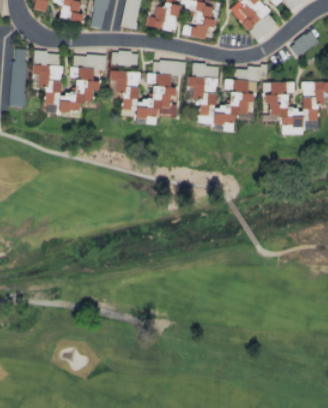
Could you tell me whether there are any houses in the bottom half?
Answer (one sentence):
No, no house appears in the bottom half.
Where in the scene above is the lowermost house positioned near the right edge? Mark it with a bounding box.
[262,80,322,127]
